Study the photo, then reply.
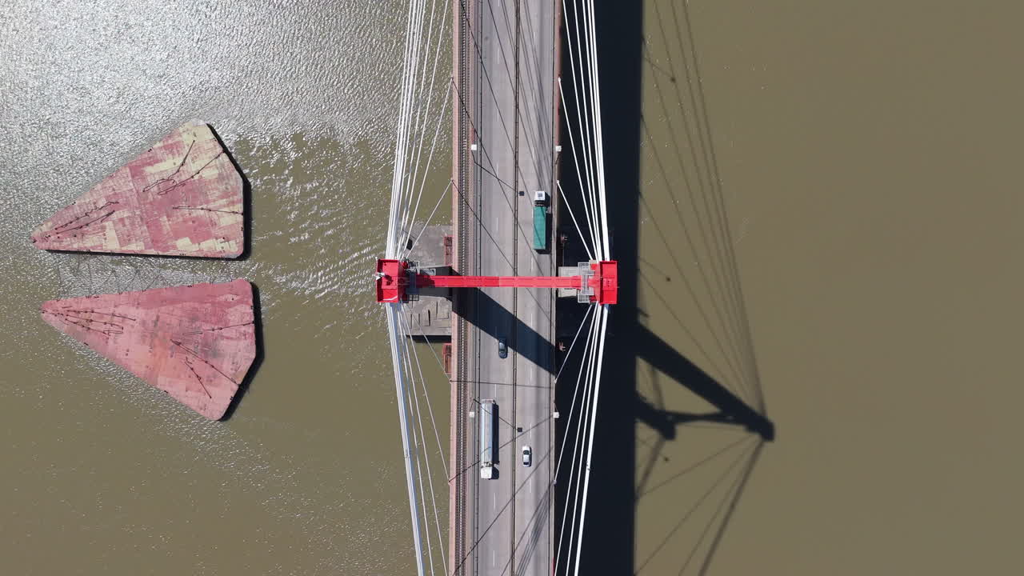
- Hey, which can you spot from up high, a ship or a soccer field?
ship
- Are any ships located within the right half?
No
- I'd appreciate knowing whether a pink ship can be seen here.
Yes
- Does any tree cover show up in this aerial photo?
No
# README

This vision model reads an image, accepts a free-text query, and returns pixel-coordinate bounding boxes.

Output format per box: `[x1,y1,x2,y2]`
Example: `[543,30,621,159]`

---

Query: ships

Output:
[31,119,246,258]
[39,279,258,420]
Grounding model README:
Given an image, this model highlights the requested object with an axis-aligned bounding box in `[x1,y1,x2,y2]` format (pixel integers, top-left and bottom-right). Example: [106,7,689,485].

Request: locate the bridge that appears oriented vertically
[371,0,620,576]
